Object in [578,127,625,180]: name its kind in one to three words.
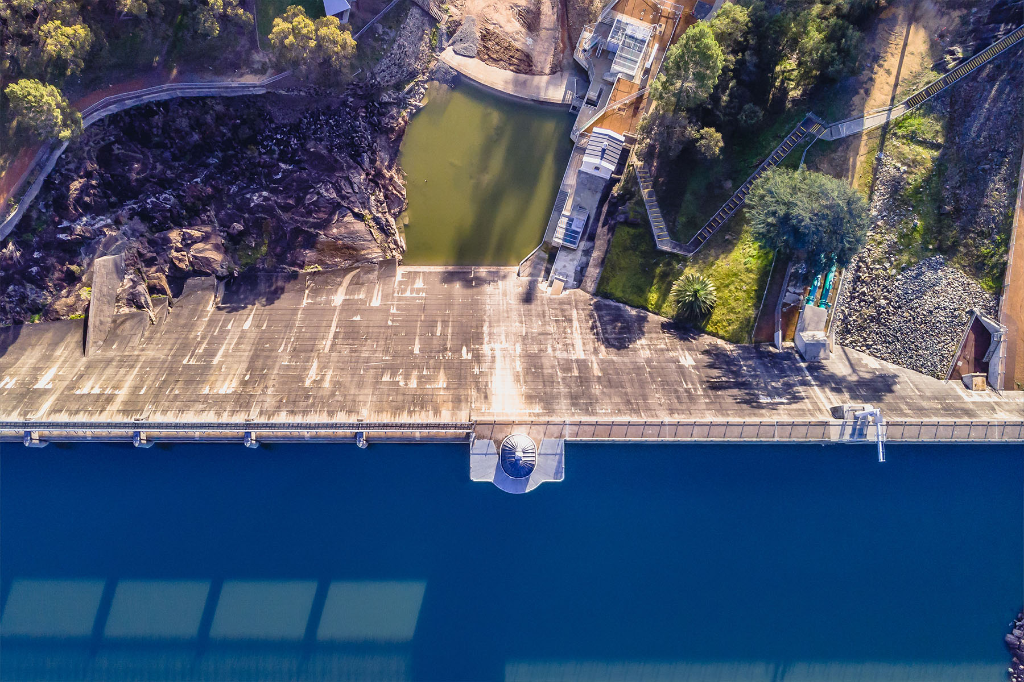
building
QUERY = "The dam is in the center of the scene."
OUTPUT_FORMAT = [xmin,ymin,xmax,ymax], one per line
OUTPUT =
[0,255,1024,448]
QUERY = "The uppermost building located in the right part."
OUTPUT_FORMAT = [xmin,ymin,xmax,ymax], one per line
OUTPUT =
[604,16,653,81]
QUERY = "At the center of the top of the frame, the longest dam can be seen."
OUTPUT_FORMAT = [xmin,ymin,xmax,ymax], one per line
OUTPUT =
[440,47,571,109]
